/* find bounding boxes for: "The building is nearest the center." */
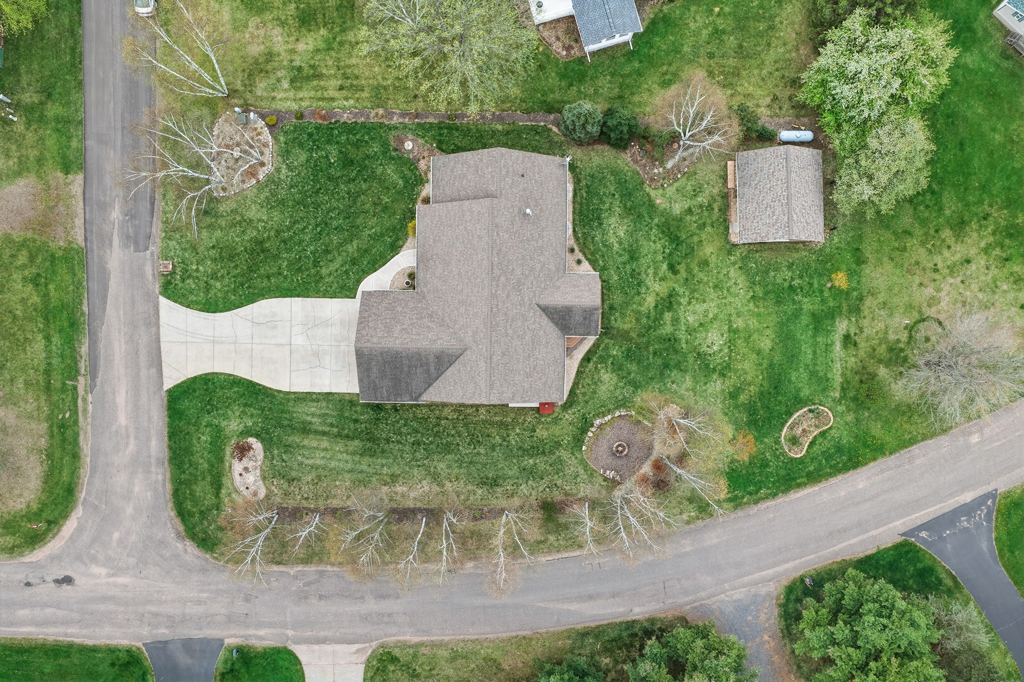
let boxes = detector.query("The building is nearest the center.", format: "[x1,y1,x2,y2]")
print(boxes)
[354,148,602,404]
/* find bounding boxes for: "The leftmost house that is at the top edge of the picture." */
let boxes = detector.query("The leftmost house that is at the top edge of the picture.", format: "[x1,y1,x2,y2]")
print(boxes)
[570,0,644,73]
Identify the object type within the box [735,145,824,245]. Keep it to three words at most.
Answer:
shed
